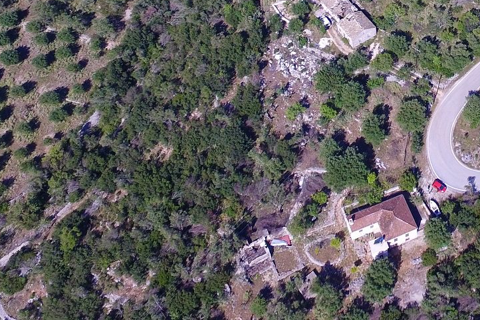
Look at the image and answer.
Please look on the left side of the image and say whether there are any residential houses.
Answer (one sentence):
No, no residential house can be made out on the left side of the image.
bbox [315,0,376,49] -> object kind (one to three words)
house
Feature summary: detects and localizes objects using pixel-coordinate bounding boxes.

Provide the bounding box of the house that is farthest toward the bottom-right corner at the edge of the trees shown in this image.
[344,191,419,270]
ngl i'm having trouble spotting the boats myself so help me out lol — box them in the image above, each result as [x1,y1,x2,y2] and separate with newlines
[430,199,443,218]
